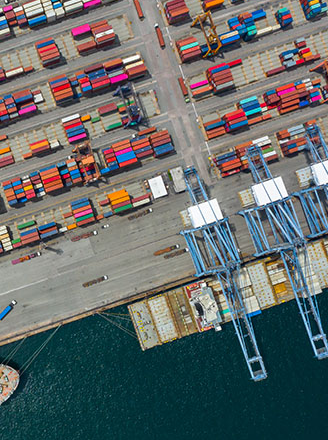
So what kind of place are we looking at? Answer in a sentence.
What you see here is a port.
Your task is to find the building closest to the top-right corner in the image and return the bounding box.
[169,165,187,193]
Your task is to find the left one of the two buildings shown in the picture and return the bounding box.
[148,174,169,198]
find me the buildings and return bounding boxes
[148,174,169,198]
[169,165,187,193]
